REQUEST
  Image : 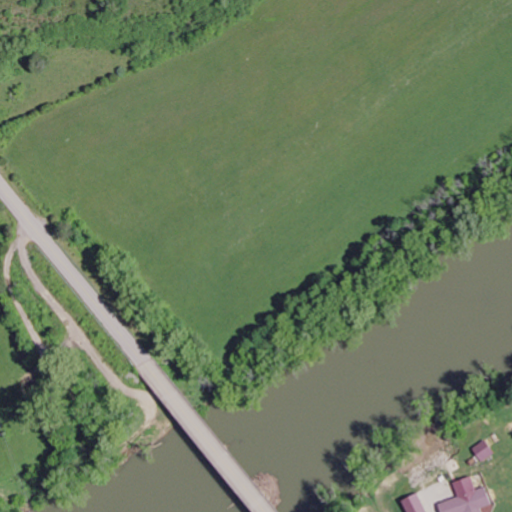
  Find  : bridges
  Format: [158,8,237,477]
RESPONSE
[132,350,279,512]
